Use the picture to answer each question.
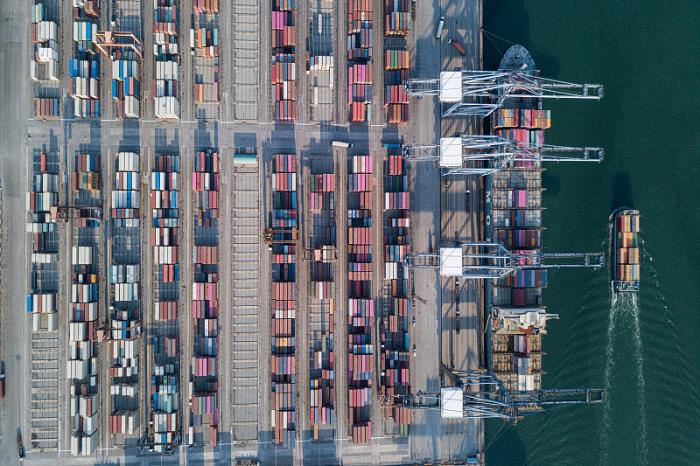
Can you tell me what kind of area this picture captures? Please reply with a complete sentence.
The area seen from above is a port.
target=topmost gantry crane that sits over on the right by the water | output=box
[405,67,599,127]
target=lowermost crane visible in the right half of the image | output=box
[406,358,600,422]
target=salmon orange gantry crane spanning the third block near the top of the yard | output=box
[92,32,144,63]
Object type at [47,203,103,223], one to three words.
container crane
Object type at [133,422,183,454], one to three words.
container crane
